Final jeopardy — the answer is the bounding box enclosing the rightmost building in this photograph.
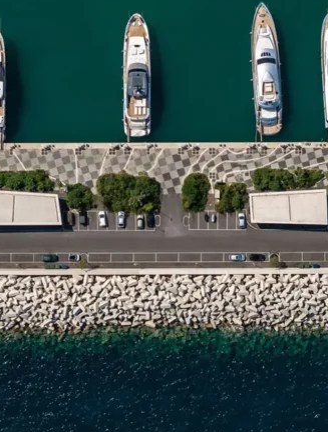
[248,189,328,226]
